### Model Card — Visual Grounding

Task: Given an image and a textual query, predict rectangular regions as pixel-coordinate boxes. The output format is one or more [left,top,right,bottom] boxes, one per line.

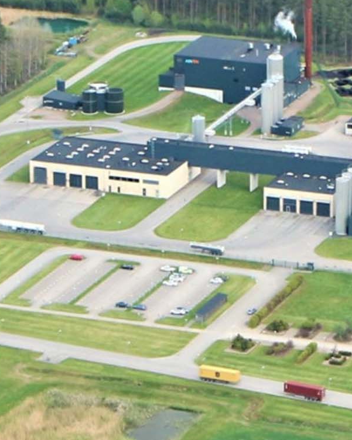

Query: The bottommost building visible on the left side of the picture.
[30,137,207,198]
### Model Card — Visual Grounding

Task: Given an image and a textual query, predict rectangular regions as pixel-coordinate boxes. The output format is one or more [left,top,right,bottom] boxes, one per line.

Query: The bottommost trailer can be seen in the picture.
[284,380,329,400]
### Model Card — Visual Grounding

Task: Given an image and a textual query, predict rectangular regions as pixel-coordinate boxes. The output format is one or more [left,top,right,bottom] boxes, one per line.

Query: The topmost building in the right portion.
[156,34,311,108]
